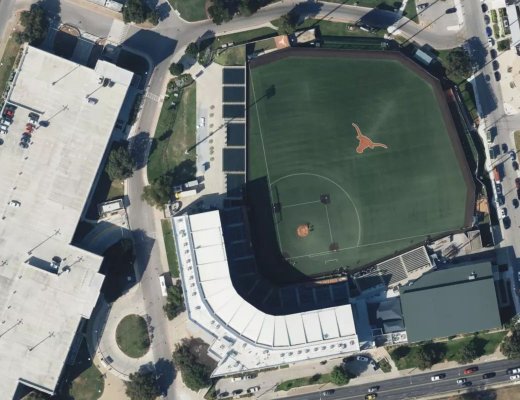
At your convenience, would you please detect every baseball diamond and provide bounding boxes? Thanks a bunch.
[244,48,476,287]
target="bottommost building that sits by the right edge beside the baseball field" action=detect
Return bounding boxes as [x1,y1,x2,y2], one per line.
[399,262,501,343]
